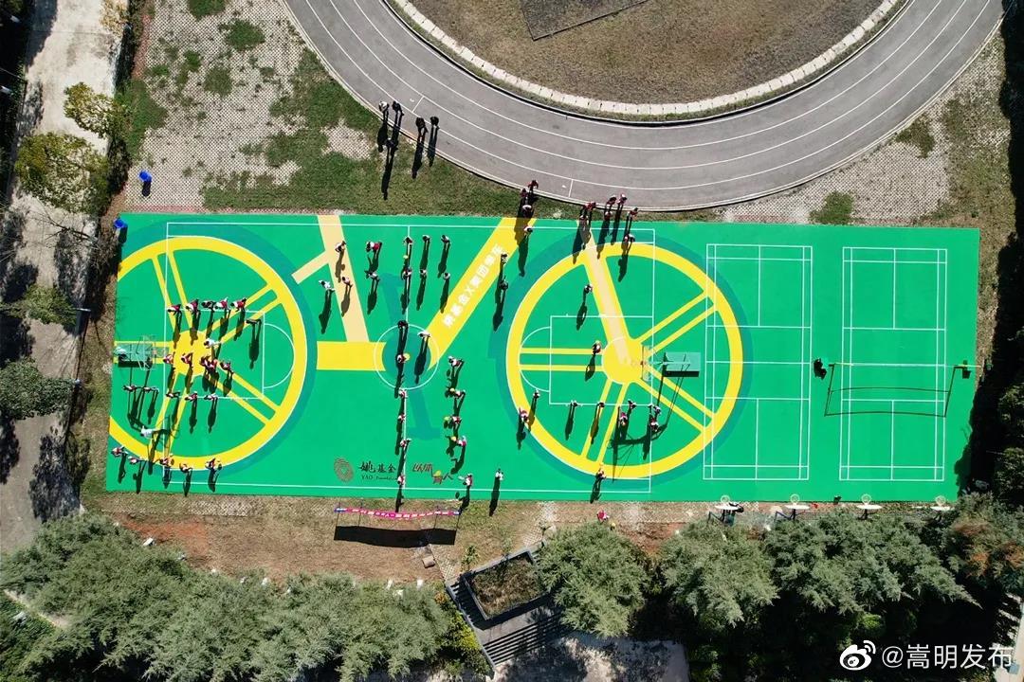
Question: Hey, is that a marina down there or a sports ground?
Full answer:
What you see here is a sports ground.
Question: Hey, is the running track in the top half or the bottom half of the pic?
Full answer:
It is in the top half that the running track appears.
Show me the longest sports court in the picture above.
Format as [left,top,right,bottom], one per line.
[106,214,979,501]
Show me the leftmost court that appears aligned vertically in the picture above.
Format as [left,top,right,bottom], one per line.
[703,243,814,481]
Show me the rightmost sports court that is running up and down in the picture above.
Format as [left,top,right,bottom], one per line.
[840,247,948,481]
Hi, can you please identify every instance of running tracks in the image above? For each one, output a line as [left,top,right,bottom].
[275,0,1015,214]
